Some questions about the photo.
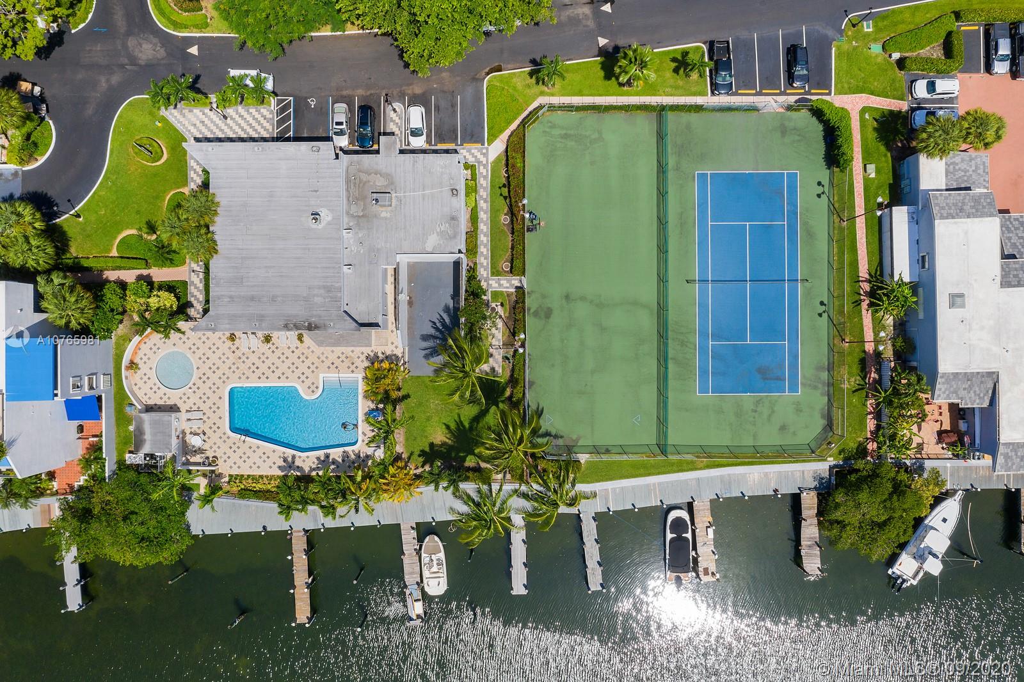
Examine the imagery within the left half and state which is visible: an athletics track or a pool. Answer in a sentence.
There is a pool within the left half.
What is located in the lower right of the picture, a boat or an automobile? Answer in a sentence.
It is a boat that can be seen in the lower right of the picture.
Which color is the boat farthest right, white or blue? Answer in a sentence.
The color of the boat farthest right is white.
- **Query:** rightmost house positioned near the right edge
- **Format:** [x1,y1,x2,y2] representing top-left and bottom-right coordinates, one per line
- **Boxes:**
[877,153,1024,476]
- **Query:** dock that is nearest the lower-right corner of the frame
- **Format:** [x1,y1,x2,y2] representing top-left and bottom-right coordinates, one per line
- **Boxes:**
[1003,490,1024,554]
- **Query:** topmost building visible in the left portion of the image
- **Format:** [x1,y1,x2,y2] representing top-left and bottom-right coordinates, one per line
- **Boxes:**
[183,137,466,331]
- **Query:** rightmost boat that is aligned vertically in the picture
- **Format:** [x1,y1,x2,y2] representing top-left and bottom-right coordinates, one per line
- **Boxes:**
[667,510,693,590]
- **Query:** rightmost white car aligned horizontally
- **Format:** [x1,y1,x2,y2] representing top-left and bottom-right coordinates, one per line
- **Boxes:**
[911,76,961,100]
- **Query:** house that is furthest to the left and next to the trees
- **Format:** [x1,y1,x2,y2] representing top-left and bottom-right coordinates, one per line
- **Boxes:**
[0,281,113,478]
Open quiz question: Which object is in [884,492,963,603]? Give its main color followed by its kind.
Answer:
white boat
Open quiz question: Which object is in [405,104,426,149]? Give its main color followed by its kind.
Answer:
white car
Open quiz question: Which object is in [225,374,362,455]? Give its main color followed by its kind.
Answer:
blue swimming pool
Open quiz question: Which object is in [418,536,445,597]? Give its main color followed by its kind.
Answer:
white boat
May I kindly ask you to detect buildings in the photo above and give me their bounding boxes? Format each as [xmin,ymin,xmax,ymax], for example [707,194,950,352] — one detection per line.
[133,412,186,455]
[0,281,113,478]
[877,153,1024,476]
[183,137,466,331]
